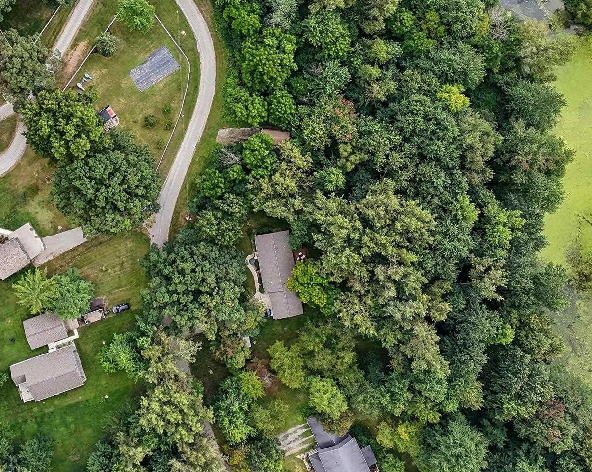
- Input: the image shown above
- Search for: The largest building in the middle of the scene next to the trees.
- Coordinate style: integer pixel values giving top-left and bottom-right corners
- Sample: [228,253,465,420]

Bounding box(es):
[254,229,308,320]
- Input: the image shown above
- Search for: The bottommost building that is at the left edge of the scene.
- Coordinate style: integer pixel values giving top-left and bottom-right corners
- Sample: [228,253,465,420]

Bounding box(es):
[10,344,84,404]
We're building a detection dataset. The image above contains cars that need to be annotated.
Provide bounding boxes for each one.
[113,303,129,314]
[261,304,273,322]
